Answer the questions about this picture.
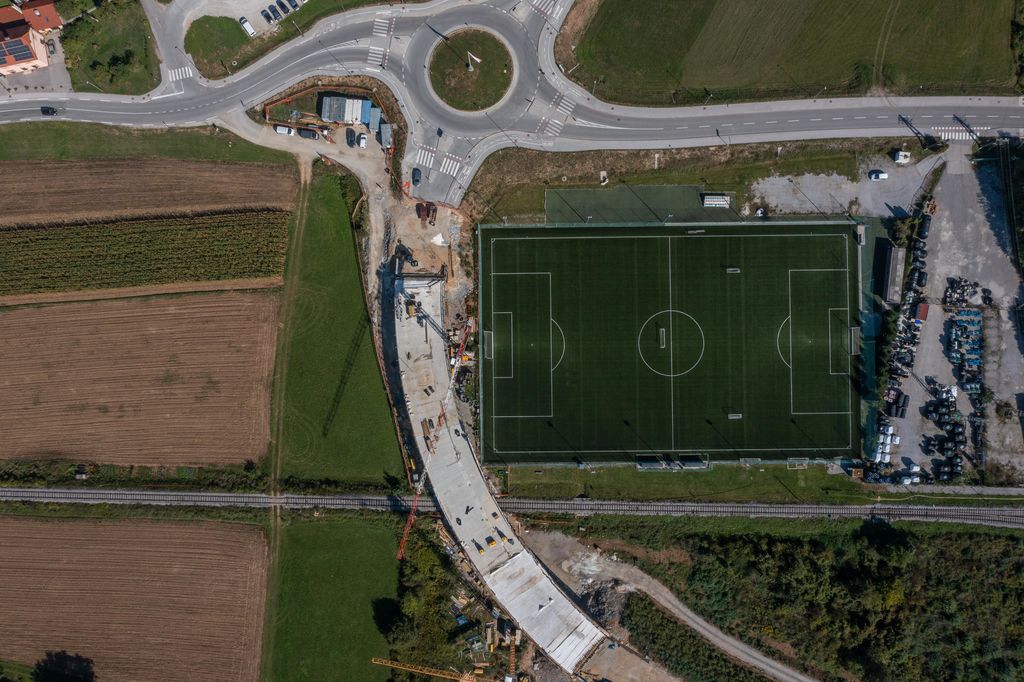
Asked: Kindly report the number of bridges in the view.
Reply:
1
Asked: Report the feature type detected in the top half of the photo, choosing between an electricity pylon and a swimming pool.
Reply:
electricity pylon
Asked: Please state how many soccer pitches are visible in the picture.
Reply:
1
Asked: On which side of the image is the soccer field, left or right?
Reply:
right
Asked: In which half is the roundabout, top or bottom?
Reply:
top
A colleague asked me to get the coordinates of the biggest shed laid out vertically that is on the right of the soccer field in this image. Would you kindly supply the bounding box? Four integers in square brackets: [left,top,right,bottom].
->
[879,248,906,303]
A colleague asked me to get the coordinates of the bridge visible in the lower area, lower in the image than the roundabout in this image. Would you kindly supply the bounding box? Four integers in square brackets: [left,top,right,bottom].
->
[395,270,609,677]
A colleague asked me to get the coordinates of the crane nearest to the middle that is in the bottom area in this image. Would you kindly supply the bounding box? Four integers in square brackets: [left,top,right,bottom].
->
[399,319,475,558]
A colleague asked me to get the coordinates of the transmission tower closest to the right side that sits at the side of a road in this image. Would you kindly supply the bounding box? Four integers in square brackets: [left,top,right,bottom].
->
[975,133,1009,154]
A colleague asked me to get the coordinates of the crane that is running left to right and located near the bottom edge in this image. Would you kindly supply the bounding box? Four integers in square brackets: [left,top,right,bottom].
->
[372,614,521,682]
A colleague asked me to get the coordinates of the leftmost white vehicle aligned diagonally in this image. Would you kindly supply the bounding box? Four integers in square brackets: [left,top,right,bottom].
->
[239,17,254,35]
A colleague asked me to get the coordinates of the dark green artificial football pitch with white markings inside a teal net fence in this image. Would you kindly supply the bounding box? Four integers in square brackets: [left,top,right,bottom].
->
[481,222,862,464]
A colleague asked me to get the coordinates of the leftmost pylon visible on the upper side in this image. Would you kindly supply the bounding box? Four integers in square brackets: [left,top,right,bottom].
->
[920,134,952,155]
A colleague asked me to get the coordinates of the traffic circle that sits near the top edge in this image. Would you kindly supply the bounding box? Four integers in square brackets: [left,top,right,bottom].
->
[403,4,538,137]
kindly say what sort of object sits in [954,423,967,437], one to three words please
vehicle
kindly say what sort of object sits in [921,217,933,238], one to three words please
vehicle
